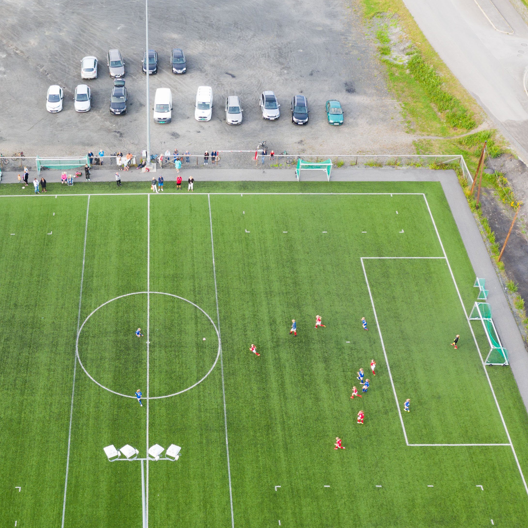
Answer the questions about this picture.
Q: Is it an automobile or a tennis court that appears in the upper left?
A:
automobile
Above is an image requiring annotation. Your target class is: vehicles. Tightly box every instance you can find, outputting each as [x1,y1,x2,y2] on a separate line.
[80,57,98,80]
[225,95,244,125]
[193,85,213,121]
[291,94,310,125]
[45,86,63,113]
[324,99,345,125]
[109,76,128,115]
[153,86,173,123]
[259,89,280,120]
[73,85,92,112]
[108,50,125,78]
[170,47,187,74]
[141,47,159,74]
